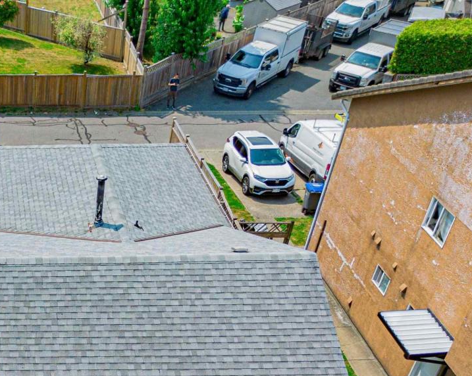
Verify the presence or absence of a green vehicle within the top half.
No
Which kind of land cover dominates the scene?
buildings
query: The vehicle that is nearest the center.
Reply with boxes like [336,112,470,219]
[220,126,305,197]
